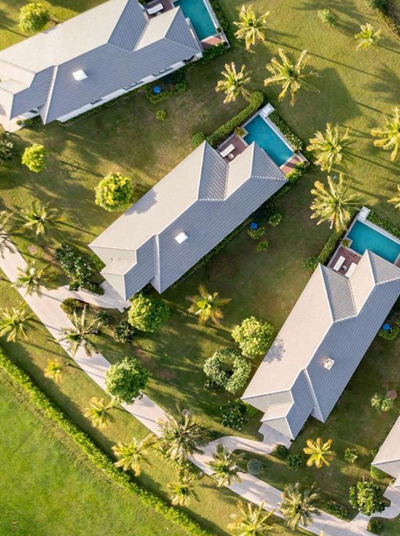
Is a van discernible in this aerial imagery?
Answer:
No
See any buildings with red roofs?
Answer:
No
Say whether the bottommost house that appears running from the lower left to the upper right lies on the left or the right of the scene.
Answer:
right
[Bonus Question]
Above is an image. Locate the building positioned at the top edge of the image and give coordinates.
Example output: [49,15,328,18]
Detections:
[0,0,202,125]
